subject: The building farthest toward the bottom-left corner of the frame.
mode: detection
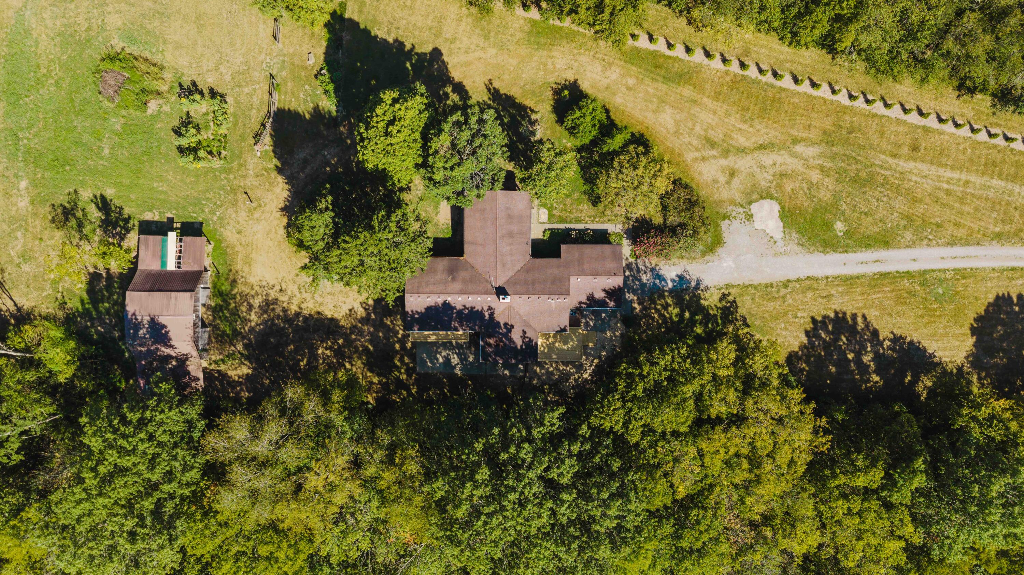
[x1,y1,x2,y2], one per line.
[124,230,211,396]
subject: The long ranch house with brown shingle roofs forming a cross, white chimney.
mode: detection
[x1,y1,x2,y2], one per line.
[404,190,623,363]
